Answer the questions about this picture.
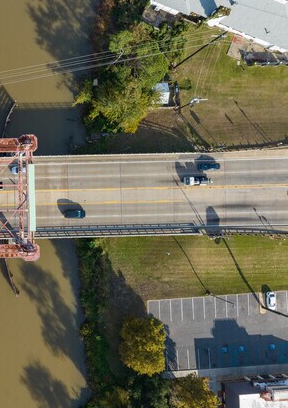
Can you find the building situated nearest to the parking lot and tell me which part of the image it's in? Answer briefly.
bottom right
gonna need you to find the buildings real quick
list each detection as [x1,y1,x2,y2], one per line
[143,0,288,56]
[145,84,166,100]
[222,366,288,408]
